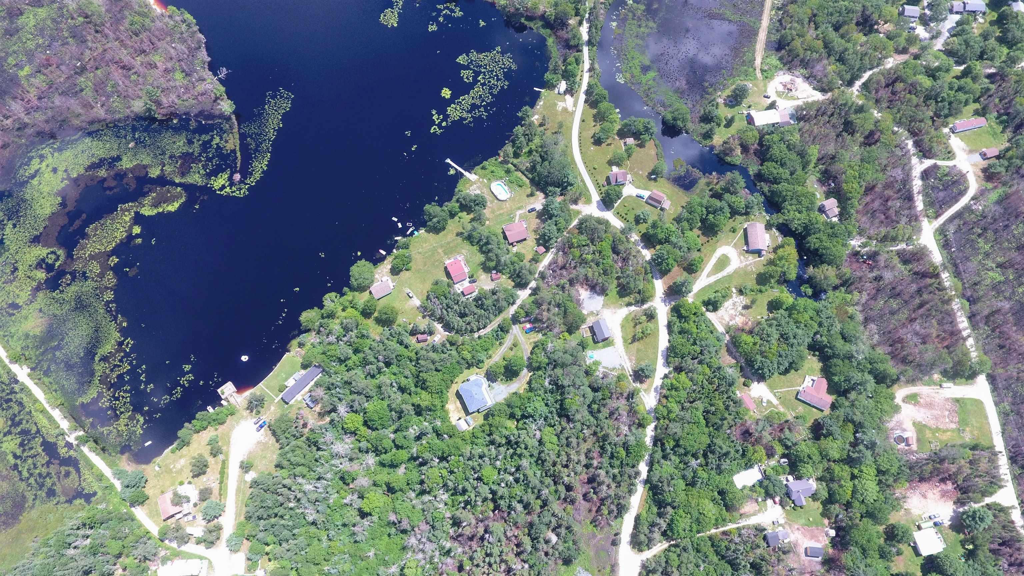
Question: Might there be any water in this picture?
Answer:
Yes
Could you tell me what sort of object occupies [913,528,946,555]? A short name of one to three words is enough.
house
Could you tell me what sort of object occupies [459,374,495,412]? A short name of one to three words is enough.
house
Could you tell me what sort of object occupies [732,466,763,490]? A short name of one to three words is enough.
building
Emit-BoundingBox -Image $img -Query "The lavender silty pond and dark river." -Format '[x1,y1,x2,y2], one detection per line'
[597,0,815,304]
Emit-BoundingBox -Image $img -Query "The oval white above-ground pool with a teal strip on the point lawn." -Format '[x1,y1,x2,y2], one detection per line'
[491,179,511,199]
